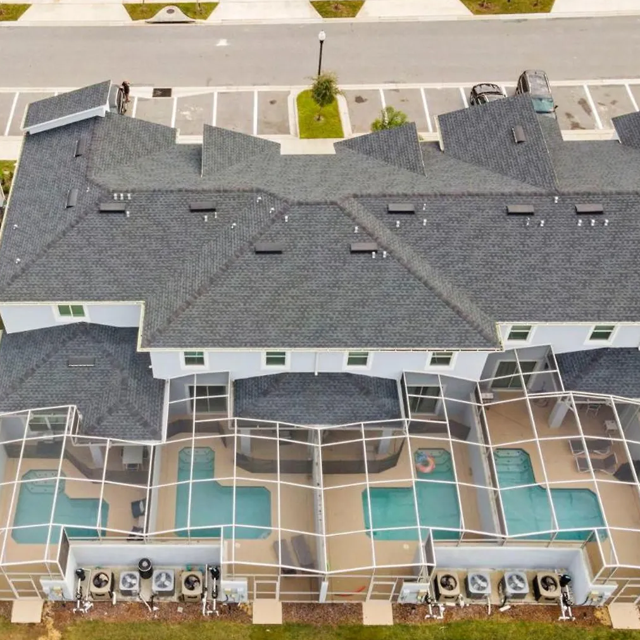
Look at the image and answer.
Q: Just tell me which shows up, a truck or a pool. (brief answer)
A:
pool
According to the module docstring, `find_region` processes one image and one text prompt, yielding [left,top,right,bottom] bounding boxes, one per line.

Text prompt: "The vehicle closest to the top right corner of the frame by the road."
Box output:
[519,69,565,128]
